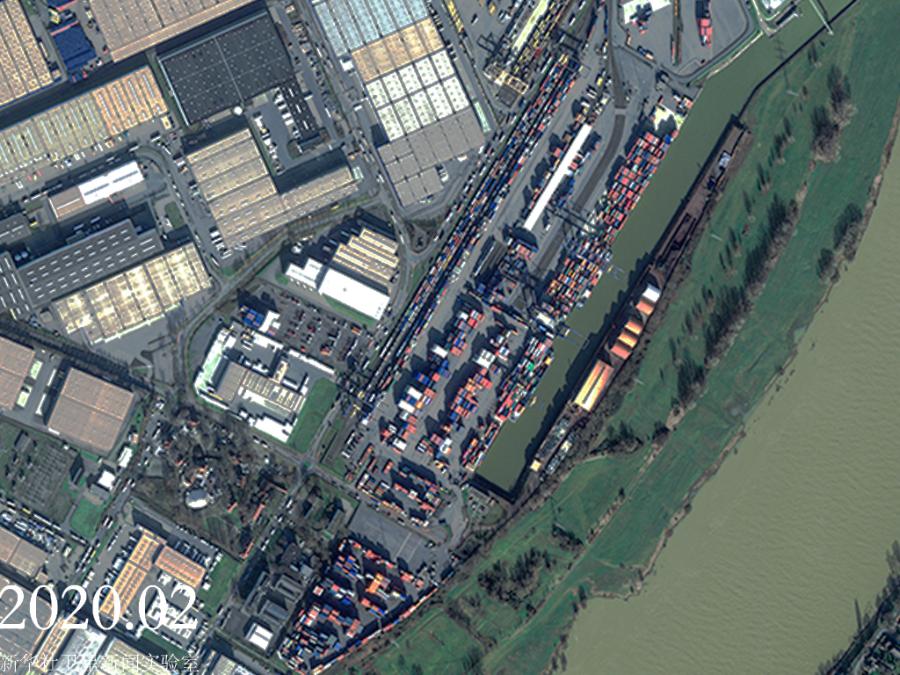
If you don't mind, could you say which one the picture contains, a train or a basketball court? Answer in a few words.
train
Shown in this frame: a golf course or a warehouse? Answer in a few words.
warehouse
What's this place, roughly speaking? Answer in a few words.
port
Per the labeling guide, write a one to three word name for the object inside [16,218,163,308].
building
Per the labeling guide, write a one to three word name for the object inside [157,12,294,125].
warehouse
